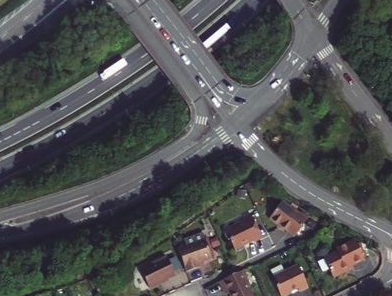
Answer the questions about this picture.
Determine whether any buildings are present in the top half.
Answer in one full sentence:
No, I see no building in the top half.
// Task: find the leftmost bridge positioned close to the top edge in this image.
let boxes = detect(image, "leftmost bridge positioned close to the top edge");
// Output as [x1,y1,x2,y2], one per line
[114,0,235,112]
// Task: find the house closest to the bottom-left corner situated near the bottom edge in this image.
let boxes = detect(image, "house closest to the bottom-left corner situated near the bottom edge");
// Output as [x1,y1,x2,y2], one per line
[140,250,178,286]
